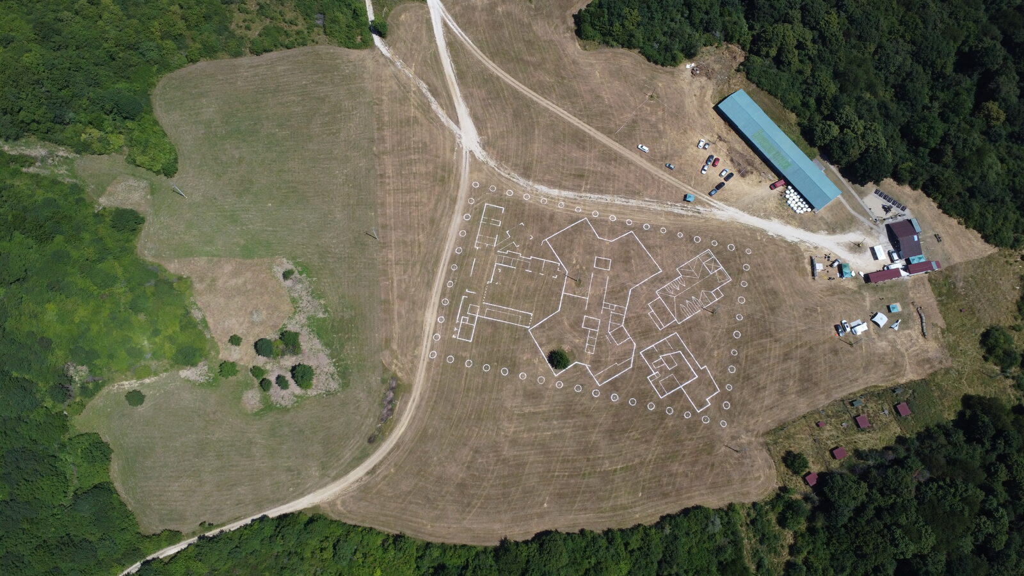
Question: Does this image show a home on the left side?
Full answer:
No, the scene shows no home on the left side.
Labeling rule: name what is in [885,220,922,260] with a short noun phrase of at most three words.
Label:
house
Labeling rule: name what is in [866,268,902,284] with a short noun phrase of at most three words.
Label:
shed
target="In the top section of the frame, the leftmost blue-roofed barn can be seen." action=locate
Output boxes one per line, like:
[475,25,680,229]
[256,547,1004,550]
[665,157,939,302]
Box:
[717,89,842,214]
